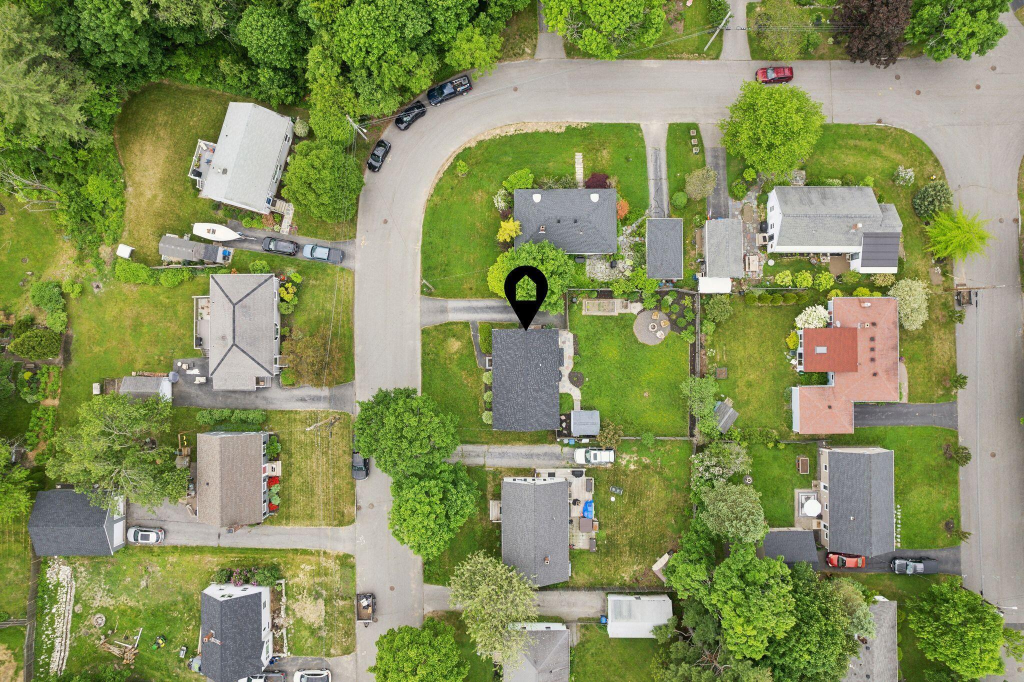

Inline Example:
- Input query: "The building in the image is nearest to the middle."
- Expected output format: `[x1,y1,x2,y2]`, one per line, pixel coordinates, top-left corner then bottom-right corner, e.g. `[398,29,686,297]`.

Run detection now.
[484,328,565,433]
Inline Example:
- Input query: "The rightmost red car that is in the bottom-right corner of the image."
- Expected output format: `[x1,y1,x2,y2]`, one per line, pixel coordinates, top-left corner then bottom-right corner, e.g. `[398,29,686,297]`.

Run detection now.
[825,552,867,571]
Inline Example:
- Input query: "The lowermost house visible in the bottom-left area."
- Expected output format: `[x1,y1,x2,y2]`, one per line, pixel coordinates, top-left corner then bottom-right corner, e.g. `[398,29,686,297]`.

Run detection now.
[200,583,277,681]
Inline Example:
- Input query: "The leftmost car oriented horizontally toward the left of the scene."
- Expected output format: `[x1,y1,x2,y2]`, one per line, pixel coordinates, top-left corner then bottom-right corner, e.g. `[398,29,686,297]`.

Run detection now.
[126,526,166,545]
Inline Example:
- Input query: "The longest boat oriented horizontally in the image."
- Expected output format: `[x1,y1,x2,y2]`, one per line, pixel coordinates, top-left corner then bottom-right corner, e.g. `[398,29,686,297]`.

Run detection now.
[191,222,245,241]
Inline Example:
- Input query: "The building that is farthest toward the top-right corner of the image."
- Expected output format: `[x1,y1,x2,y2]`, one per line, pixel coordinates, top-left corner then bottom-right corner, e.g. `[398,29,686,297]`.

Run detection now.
[753,186,911,274]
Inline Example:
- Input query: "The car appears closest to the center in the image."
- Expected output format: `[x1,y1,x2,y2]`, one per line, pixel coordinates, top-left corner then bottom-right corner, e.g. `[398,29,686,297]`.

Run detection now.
[574,447,615,466]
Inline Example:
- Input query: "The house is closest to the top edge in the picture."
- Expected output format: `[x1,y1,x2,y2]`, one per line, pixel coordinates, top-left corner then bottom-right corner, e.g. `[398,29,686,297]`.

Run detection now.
[201,100,295,216]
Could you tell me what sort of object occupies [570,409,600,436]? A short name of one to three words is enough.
shed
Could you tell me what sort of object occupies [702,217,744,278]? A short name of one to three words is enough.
building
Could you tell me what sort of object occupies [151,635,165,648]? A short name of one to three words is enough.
vehicle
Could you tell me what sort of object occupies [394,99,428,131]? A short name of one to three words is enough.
car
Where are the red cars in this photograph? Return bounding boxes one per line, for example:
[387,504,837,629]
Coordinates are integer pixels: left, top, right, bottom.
[825,552,867,571]
[755,64,795,84]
